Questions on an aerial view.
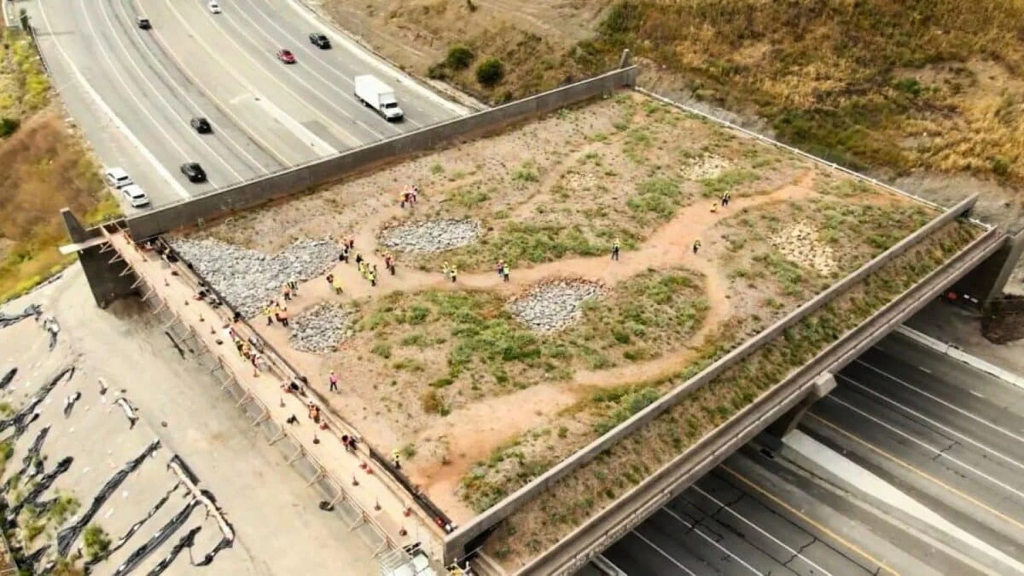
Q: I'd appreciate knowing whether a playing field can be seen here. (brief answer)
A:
No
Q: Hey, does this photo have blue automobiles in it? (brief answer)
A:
No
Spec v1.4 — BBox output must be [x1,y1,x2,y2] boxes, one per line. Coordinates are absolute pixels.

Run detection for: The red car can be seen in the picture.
[276,48,296,62]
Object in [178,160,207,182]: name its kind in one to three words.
car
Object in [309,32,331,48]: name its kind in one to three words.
vehicle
